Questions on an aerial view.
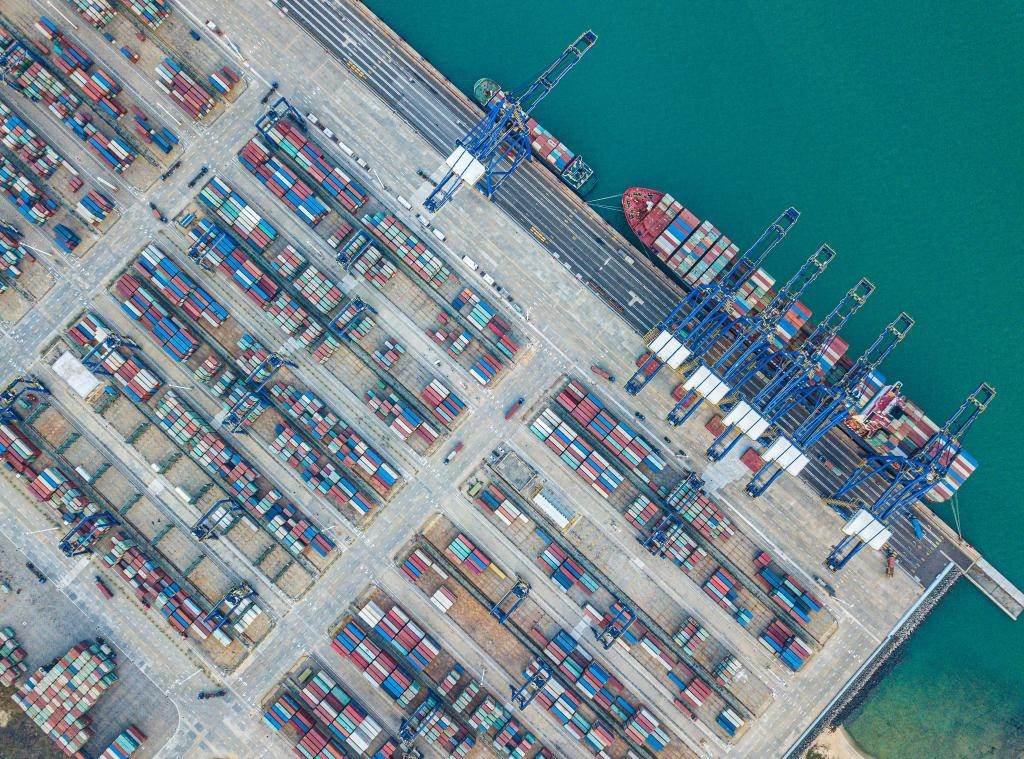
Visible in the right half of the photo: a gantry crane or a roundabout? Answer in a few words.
gantry crane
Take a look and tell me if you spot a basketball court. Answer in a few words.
No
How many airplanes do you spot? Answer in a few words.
0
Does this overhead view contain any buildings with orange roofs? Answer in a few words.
No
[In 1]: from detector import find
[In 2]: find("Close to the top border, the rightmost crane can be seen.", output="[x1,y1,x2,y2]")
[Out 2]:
[422,29,595,210]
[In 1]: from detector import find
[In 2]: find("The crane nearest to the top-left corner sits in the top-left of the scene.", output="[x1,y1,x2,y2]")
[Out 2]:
[0,39,47,94]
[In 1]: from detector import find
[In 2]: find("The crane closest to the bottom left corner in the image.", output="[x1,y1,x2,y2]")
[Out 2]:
[58,509,119,557]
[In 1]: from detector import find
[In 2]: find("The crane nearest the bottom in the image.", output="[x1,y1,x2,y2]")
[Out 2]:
[396,687,443,744]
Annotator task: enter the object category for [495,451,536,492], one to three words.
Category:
building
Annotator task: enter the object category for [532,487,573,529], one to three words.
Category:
shed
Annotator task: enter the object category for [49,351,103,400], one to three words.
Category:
shed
